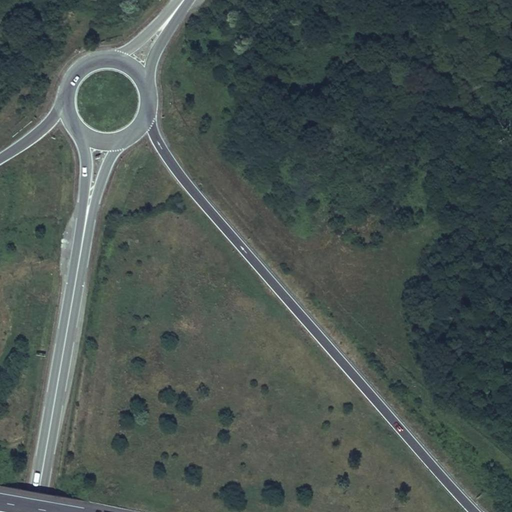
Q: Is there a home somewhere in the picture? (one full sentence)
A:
No, no home can be seen from above.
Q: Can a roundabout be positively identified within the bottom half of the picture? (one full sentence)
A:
No, there's no roundabout to be seen within the bottom half of the picture.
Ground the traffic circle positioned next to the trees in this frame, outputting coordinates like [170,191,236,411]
[56,50,158,152]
